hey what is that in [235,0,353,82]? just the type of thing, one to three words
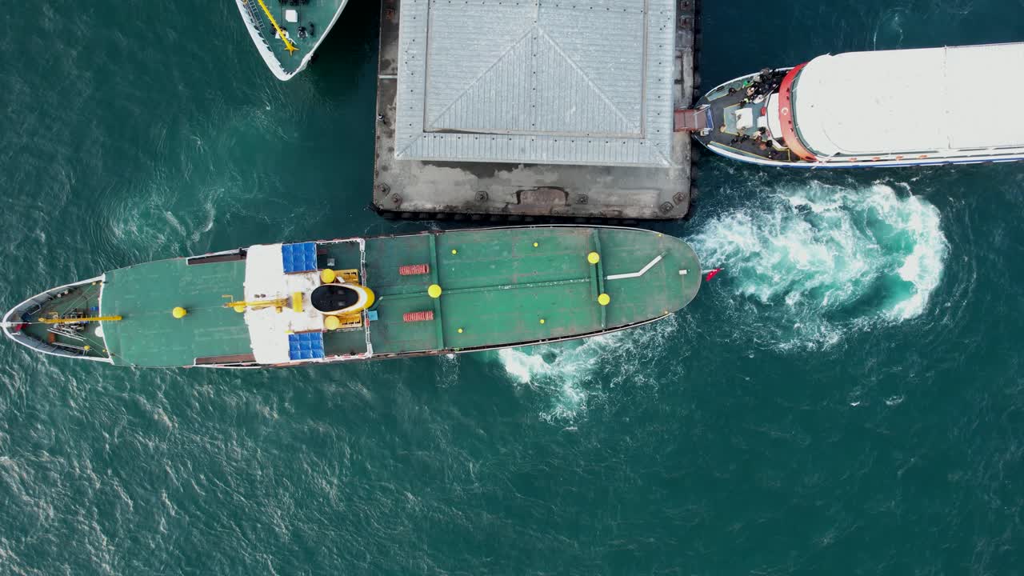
ship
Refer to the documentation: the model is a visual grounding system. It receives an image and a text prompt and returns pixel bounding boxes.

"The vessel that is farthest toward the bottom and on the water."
[0,224,724,370]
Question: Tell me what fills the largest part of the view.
water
